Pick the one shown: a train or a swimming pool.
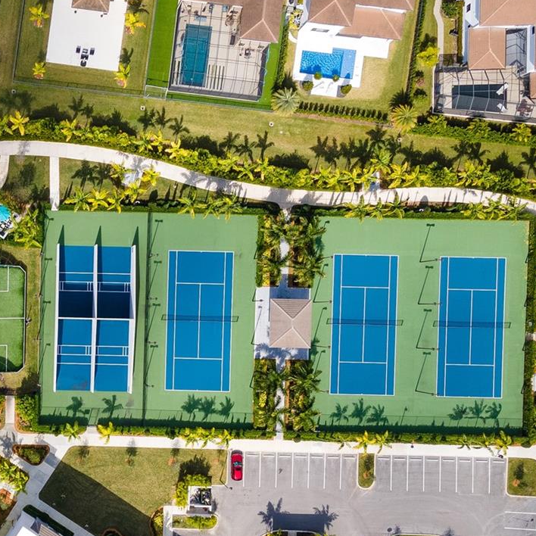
swimming pool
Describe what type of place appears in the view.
sports ground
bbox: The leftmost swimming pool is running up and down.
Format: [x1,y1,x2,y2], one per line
[181,24,212,86]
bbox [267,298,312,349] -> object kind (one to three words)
building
